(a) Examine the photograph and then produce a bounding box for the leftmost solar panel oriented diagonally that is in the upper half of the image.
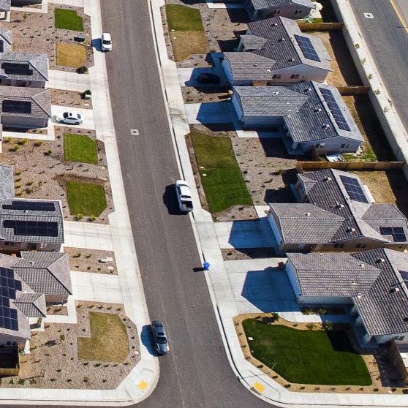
[295,34,320,62]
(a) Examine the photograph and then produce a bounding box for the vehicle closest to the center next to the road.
[174,179,195,209]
